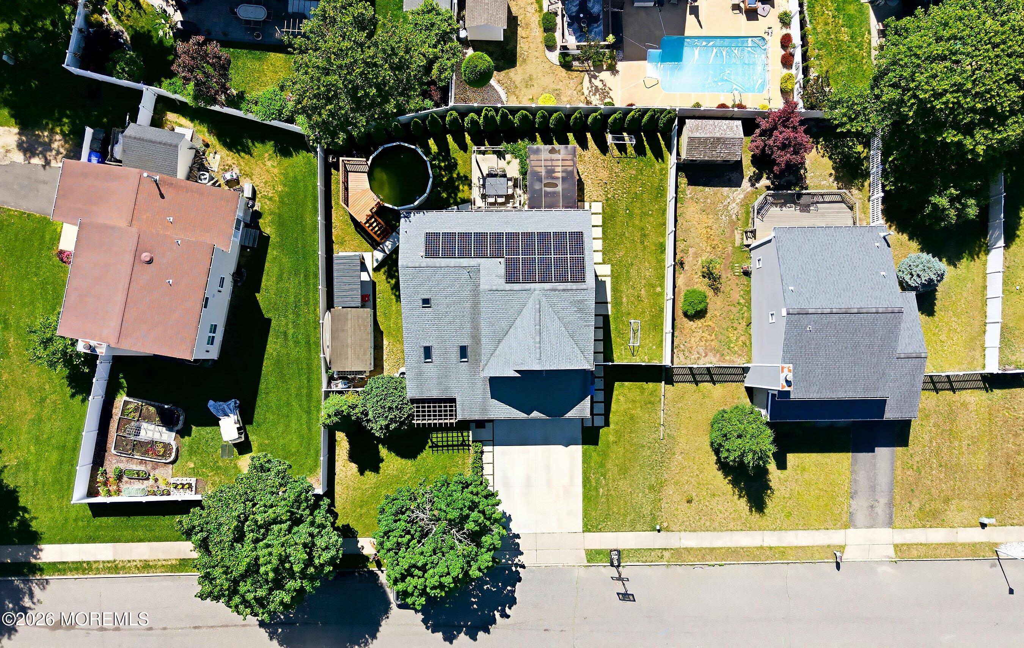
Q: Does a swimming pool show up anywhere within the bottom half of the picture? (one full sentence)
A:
No, looking within the bottom half of the picture, there is no swimming pool.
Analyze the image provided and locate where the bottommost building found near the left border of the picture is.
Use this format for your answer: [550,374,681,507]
[49,158,249,361]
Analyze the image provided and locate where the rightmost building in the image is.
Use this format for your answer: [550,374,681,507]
[743,224,930,422]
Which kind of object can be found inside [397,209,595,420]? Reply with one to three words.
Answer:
house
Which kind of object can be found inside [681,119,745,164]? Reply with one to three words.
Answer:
shed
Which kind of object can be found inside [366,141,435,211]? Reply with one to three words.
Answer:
swimming pool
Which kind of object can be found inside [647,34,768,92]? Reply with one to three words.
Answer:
swimming pool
